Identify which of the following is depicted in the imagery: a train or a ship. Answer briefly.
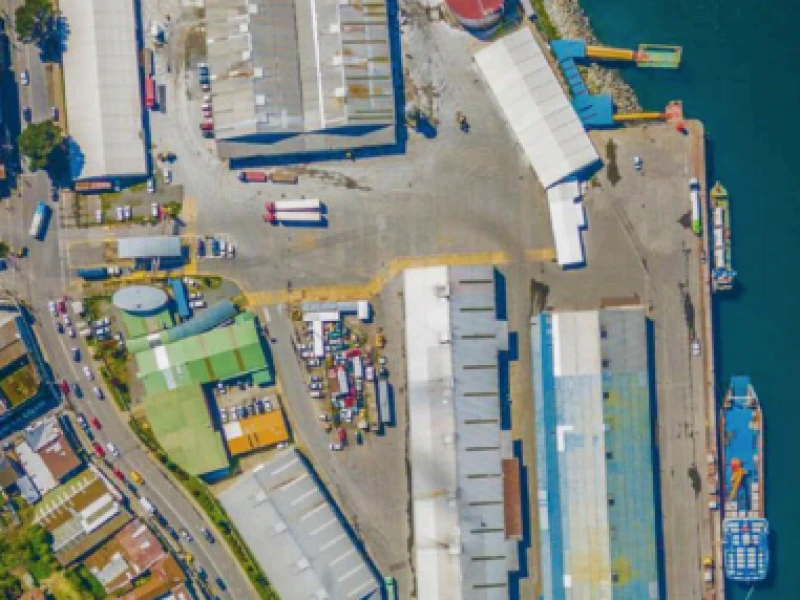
ship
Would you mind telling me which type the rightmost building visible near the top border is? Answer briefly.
warehouse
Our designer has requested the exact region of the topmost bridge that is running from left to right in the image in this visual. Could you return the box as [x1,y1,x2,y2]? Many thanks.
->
[586,43,634,59]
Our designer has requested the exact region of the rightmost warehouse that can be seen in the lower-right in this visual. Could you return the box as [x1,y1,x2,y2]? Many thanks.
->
[530,306,660,600]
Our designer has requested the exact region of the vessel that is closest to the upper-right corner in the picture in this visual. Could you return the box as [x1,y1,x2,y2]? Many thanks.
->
[702,177,740,296]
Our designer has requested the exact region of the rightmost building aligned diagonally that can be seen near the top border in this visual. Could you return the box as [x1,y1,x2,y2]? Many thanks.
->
[473,27,602,188]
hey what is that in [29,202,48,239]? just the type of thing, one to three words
vehicle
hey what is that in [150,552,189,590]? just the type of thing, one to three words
house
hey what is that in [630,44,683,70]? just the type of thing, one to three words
pier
